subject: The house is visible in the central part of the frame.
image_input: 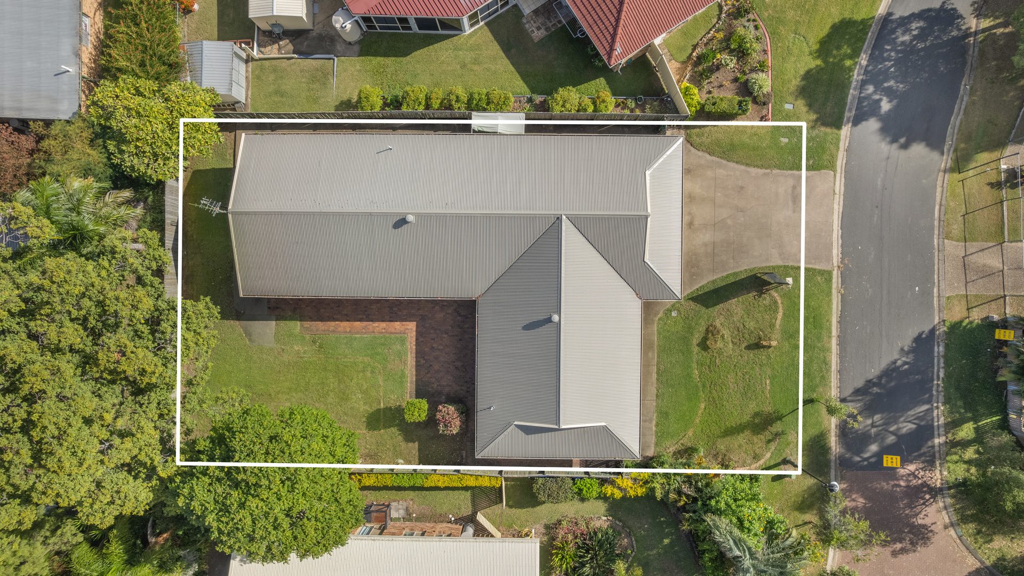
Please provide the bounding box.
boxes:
[225,132,685,461]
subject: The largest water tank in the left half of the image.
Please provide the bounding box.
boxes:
[333,9,370,50]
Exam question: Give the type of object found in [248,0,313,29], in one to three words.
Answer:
shed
